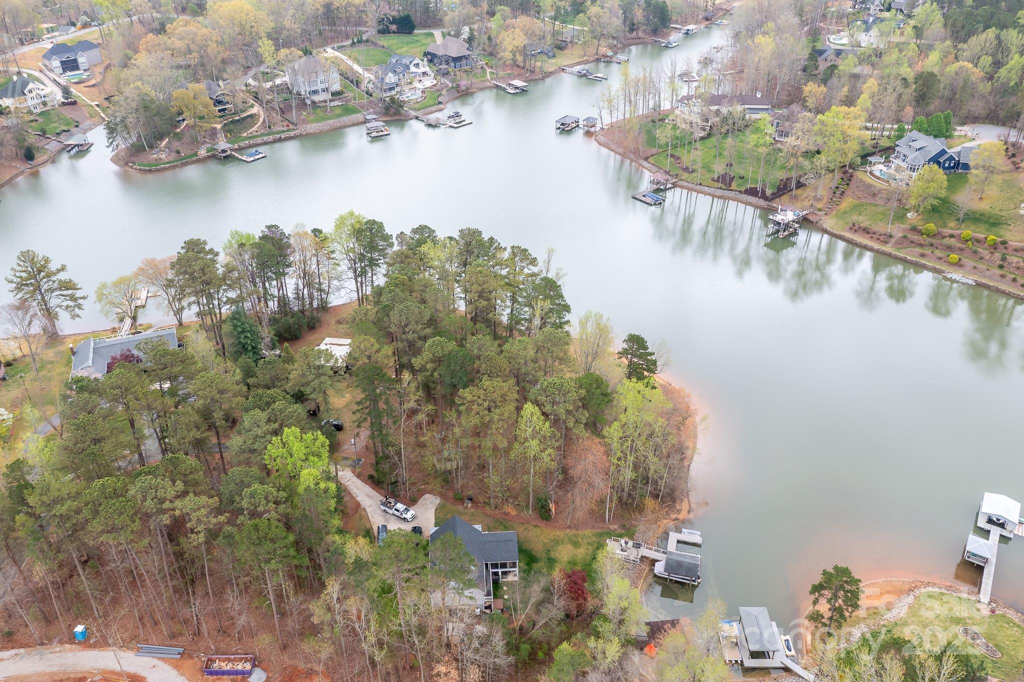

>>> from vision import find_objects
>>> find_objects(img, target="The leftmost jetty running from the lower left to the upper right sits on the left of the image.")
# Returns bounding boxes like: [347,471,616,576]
[115,288,160,330]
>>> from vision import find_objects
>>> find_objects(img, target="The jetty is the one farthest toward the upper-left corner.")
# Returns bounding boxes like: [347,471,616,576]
[61,138,93,154]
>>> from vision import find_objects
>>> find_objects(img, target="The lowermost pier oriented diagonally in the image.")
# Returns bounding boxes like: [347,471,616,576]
[736,608,819,682]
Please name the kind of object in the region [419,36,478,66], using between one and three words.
house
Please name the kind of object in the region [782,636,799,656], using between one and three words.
boat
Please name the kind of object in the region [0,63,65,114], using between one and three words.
house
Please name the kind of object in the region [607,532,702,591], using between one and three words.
pier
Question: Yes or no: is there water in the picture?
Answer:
Yes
